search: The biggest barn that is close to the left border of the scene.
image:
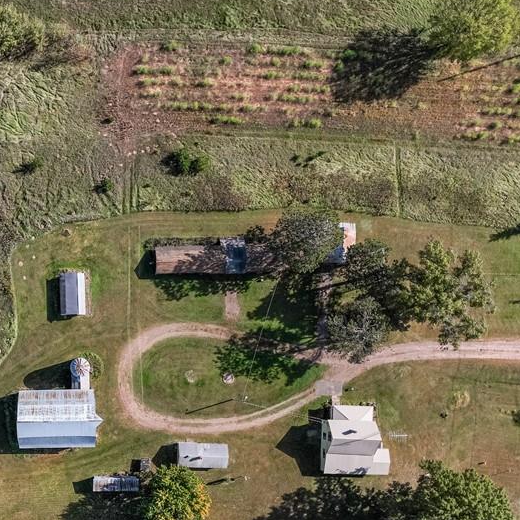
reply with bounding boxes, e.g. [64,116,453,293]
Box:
[18,389,104,449]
